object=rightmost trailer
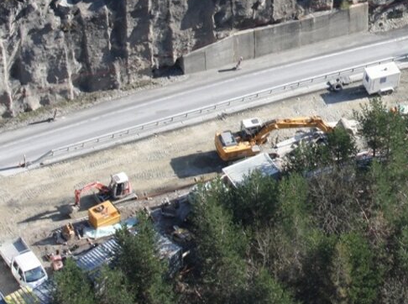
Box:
[355,60,408,97]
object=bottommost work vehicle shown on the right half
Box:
[212,120,346,167]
